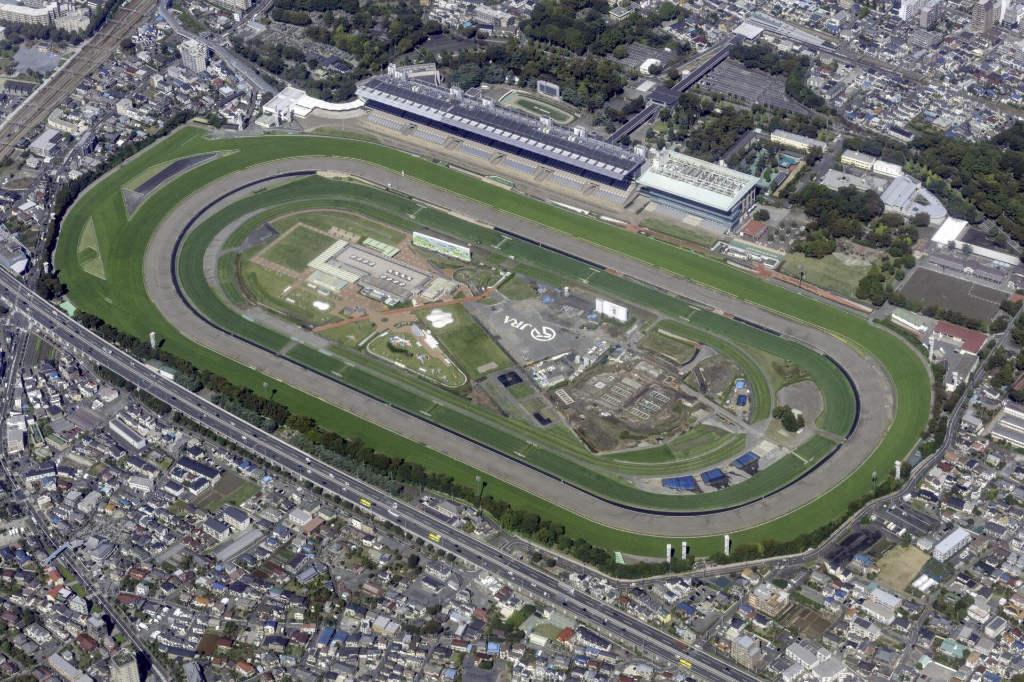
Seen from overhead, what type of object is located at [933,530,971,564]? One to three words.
building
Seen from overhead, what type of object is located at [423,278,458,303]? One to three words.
building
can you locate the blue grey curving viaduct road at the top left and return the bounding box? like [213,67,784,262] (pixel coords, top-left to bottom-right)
[156,0,279,99]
